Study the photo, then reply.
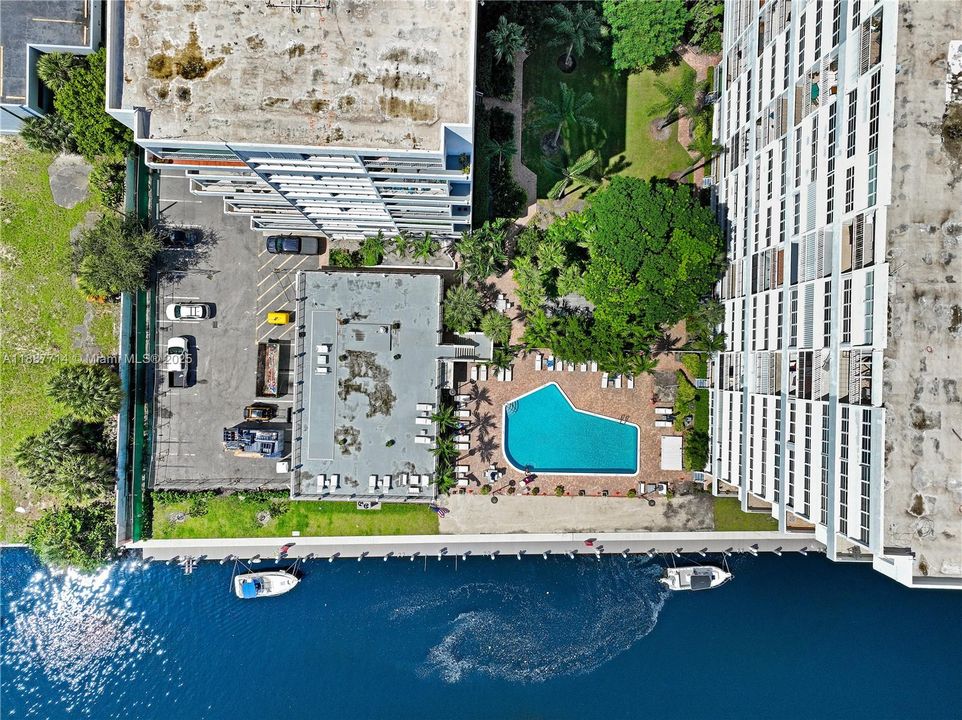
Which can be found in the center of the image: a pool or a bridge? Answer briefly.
pool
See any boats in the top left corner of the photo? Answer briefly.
No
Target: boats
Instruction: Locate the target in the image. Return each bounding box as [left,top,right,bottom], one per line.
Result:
[664,568,732,589]
[231,572,299,598]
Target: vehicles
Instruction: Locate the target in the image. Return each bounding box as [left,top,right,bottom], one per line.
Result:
[163,227,205,246]
[265,235,317,255]
[162,337,186,388]
[164,301,206,321]
[241,403,270,420]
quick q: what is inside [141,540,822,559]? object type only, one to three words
pier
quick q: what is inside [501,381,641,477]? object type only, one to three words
swimming pool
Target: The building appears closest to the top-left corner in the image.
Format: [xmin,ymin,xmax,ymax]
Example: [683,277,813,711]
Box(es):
[104,0,487,248]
